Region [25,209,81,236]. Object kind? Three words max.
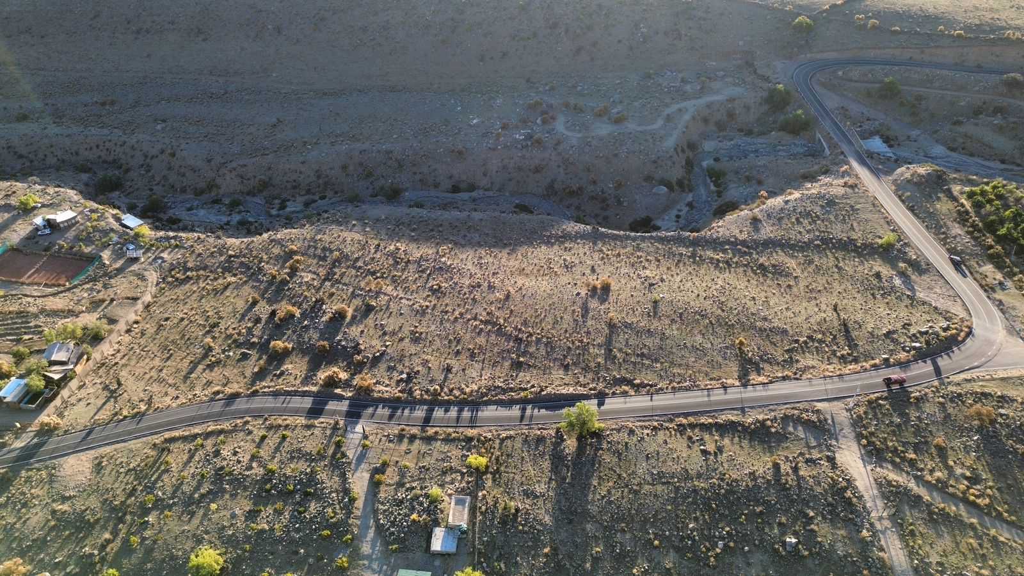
house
